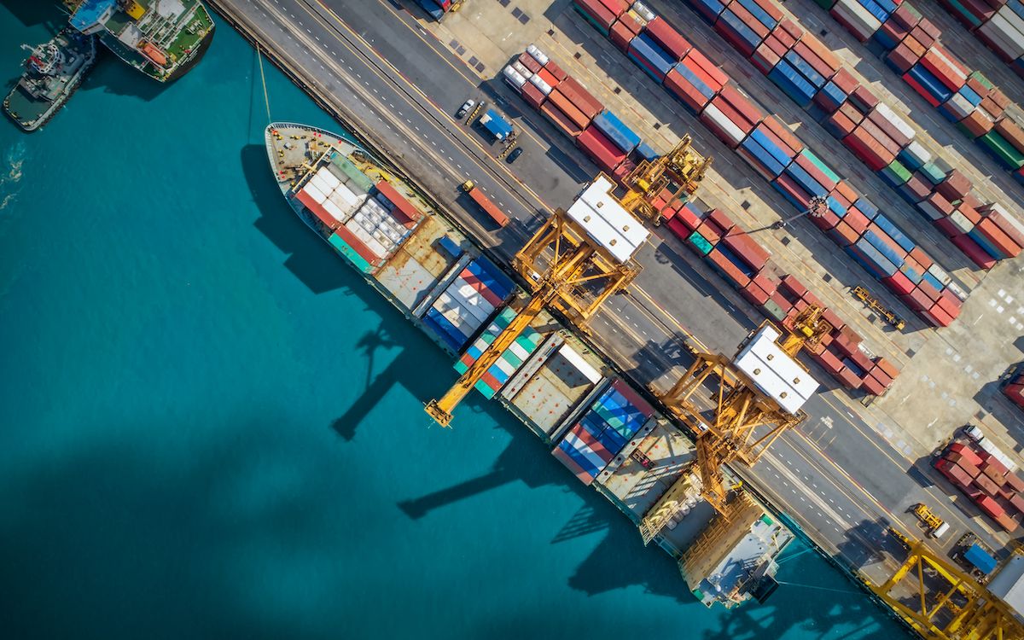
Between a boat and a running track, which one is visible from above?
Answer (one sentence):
The image shows a boat.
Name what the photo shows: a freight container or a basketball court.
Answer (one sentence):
I can see a freight container in this picture.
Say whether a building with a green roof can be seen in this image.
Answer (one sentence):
No, there is no building with a green roof in the image.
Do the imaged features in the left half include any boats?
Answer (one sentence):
Yes, a boat is visible in the left half.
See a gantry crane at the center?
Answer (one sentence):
Yes, at the center there is a gantry crane.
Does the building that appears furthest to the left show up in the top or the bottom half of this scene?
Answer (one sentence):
The building that appears furthest to the left is in the top half of the image.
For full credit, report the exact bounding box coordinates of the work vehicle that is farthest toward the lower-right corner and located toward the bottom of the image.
[909,502,951,539]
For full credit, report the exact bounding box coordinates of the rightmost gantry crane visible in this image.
[848,522,1024,640]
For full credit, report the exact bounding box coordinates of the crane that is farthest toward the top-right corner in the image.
[621,130,718,233]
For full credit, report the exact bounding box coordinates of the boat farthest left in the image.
[2,28,102,131]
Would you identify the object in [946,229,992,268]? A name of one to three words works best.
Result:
shipping container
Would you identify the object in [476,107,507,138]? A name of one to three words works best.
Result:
building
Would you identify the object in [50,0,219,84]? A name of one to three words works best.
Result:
ship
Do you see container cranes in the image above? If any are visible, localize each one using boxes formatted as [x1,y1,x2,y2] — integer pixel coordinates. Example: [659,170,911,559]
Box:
[621,130,718,233]
[848,522,1024,640]
[420,155,671,432]
[644,305,838,527]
